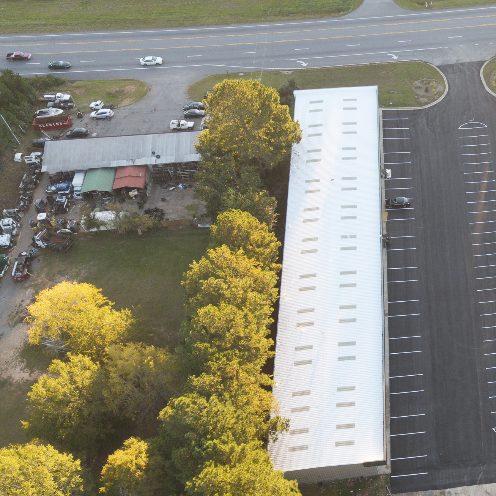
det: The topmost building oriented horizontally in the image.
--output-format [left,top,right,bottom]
[41,131,212,179]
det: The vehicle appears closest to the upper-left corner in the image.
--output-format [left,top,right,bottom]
[3,50,32,62]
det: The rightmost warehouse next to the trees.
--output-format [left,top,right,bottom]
[272,83,387,483]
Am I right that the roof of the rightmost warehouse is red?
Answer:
No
